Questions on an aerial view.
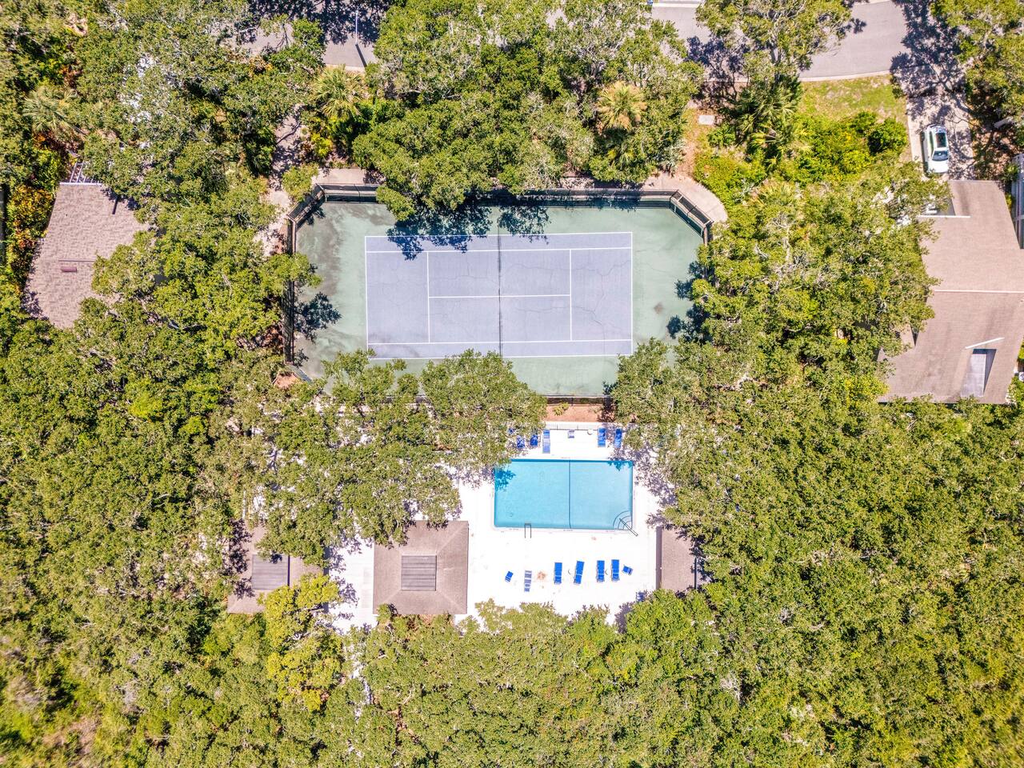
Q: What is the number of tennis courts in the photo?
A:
1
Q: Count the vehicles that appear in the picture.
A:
1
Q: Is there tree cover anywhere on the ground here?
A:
Yes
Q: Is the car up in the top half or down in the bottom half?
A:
top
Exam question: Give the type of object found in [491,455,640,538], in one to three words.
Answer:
swimming pool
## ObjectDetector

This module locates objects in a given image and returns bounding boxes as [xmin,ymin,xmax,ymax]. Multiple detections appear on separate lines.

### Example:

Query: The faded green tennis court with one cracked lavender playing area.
[288,188,708,402]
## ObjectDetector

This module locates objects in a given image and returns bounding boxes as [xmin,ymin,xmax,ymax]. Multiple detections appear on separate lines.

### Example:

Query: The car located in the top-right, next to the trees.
[923,125,952,175]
